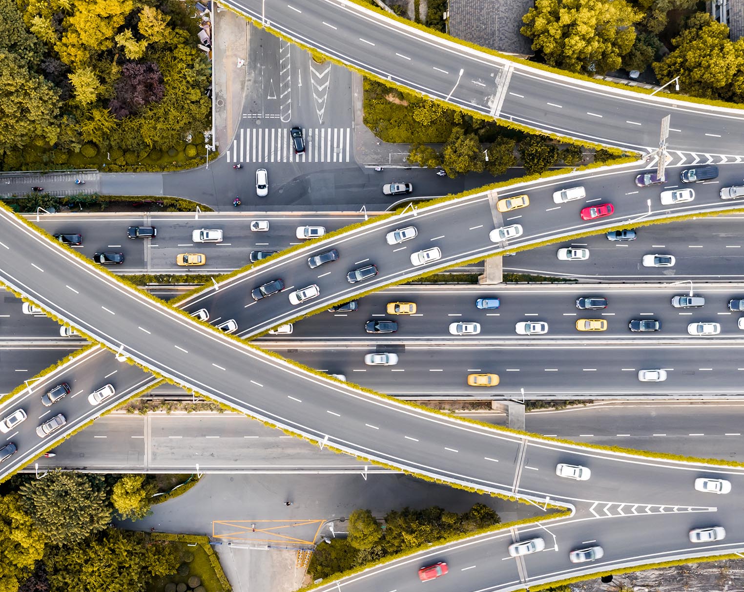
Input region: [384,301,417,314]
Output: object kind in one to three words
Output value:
vehicle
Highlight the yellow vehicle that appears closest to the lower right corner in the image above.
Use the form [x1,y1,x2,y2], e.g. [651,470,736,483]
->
[574,317,608,332]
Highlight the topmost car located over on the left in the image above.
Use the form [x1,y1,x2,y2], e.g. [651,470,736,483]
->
[289,126,306,156]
